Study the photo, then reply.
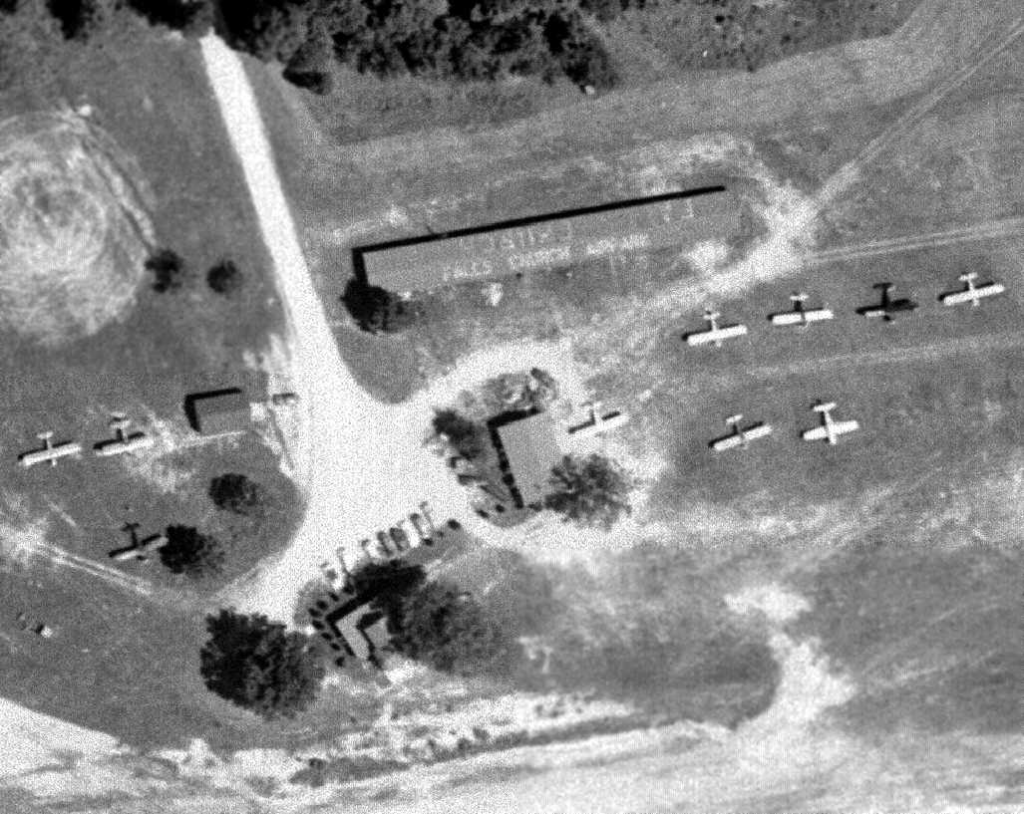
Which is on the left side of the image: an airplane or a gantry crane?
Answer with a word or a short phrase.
airplane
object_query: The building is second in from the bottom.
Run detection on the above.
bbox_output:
[499,415,571,509]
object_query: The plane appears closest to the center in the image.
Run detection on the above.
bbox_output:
[569,403,630,441]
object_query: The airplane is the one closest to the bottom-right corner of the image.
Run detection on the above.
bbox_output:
[803,402,860,446]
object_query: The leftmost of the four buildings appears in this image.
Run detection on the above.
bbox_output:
[192,389,255,438]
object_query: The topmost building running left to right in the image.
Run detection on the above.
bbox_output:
[363,190,737,297]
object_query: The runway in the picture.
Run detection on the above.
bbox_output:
[0,635,1024,814]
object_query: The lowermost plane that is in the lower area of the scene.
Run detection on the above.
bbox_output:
[110,526,170,563]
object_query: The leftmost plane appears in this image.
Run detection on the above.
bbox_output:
[20,431,82,468]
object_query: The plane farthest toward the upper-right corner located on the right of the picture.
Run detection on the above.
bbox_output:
[945,272,1006,308]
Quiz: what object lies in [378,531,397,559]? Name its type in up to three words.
car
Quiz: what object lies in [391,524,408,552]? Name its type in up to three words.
car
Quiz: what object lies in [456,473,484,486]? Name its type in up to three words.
vehicle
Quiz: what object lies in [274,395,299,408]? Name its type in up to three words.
vehicle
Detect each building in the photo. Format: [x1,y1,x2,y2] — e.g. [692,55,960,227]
[192,389,255,438]
[334,599,408,662]
[363,190,737,297]
[499,415,571,509]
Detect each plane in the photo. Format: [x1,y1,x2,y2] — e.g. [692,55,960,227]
[772,293,834,330]
[945,272,1006,308]
[713,415,774,452]
[803,402,860,446]
[687,312,749,349]
[569,403,630,441]
[20,431,82,468]
[93,424,155,461]
[110,526,170,563]
[862,287,923,324]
